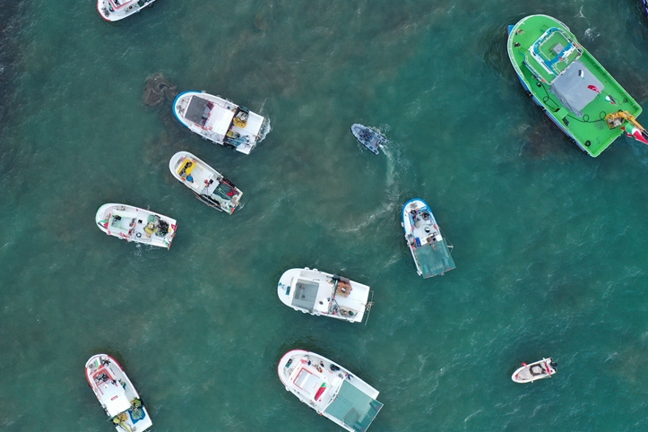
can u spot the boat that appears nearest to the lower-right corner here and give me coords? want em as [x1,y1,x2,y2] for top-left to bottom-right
[511,357,557,383]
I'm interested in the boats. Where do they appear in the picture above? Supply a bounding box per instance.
[169,151,244,213]
[172,89,264,155]
[277,349,383,432]
[97,0,150,22]
[85,353,152,432]
[350,122,385,153]
[96,203,176,247]
[400,198,456,279]
[277,268,374,324]
[511,357,557,383]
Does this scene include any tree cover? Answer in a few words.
No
